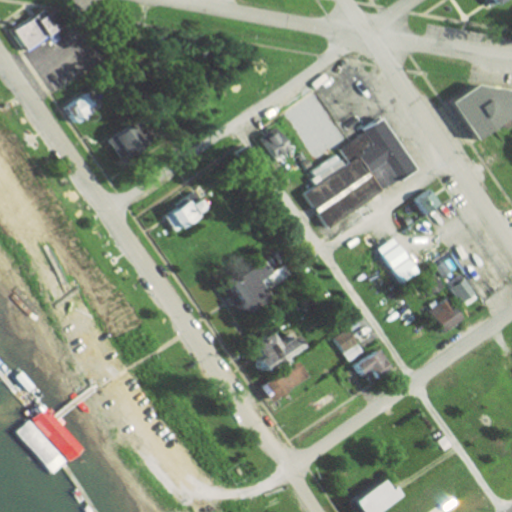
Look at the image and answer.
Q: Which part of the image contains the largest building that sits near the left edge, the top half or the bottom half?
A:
bottom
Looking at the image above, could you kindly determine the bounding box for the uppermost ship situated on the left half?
[10,294,36,319]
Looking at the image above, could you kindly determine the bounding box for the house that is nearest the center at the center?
[236,268,291,306]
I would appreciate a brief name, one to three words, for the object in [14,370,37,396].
boat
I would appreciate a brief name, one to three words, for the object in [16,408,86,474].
building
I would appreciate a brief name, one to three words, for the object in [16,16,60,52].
house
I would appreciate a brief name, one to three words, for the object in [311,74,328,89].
vehicle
